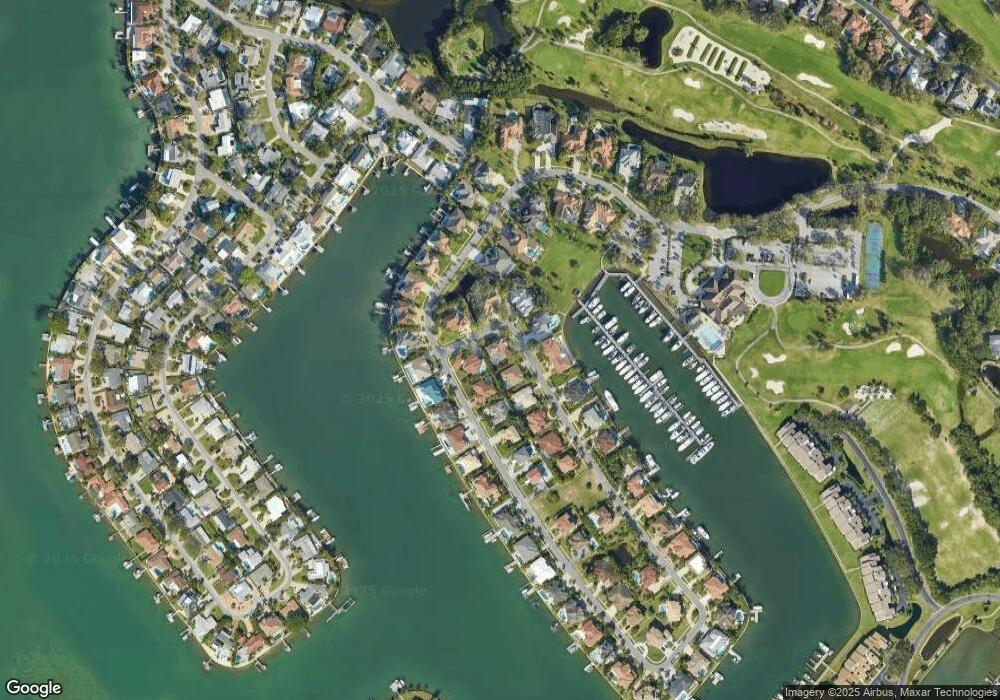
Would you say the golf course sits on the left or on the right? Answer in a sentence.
The golf course appears in the right half of the scene.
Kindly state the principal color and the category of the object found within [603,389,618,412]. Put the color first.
white boat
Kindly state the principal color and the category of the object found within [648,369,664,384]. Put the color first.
white boat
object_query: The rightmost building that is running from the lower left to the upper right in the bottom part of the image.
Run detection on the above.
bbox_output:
[823,630,892,700]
